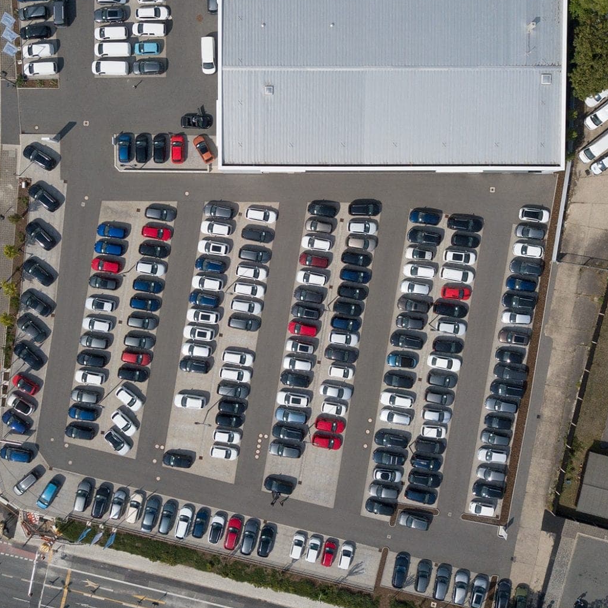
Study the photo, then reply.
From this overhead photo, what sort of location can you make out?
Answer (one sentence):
This looks like a parking lot.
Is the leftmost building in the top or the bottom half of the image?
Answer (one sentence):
The top half of the photo is where the leftmost building is.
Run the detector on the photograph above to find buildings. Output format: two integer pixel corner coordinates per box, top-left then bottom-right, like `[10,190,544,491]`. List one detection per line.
[572,452,608,519]
[216,0,566,176]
